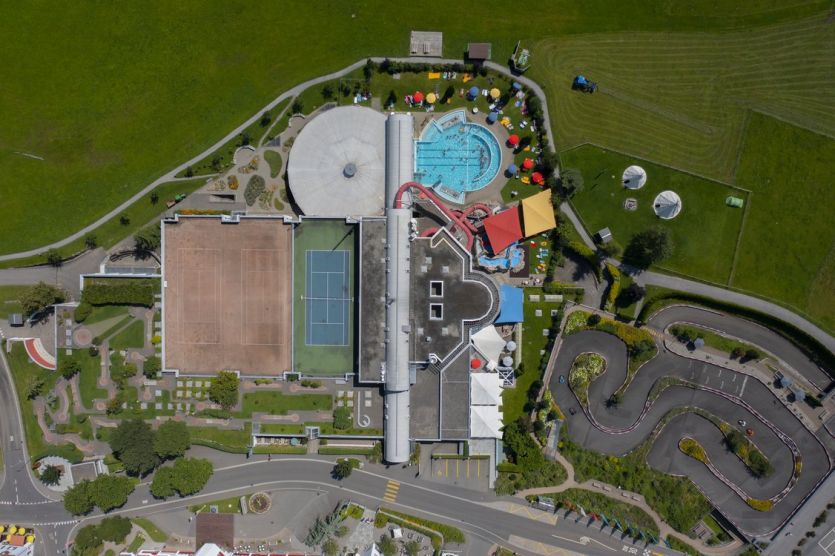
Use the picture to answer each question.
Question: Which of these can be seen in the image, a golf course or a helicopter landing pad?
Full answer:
The image shows a golf course.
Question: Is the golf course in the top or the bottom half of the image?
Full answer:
It is in the bottom half that the golf course appears.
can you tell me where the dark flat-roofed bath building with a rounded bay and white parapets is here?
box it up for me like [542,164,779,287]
[411,220,501,440]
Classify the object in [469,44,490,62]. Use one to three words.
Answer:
shed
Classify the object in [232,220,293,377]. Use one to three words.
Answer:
tennis court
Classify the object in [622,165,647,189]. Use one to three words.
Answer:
tent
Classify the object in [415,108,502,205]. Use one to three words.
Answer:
swimming pool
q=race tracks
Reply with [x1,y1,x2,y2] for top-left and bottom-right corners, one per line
[548,304,835,537]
